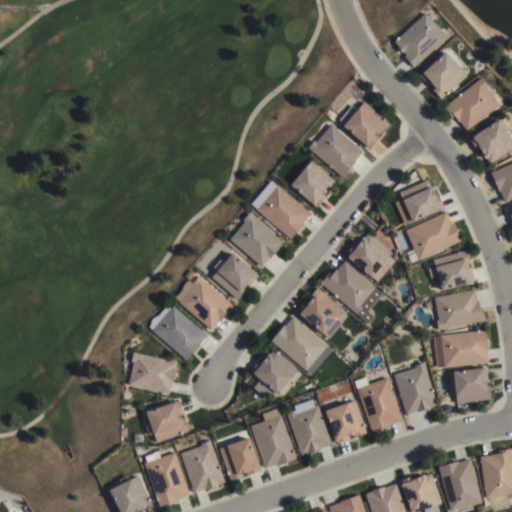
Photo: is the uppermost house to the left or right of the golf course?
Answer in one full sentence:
Relative to the golf course, the uppermost house lies to the right.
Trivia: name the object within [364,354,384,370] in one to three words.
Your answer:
swimming pool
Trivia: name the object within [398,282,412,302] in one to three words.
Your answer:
swimming pool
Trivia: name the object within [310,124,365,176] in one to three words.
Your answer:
house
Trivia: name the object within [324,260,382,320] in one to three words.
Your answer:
house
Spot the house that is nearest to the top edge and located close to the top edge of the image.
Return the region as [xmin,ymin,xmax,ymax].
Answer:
[394,14,454,67]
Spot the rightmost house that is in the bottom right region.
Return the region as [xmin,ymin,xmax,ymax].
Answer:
[478,450,512,512]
